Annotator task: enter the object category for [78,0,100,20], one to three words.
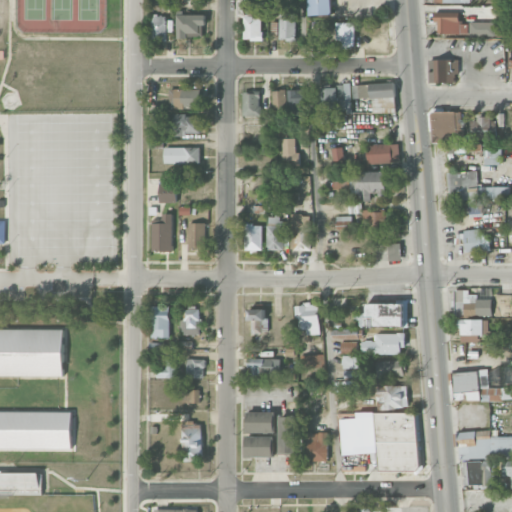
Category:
tennis court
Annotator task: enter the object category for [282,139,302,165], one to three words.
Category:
house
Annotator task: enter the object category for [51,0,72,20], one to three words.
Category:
tennis court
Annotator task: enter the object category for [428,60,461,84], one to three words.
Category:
building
